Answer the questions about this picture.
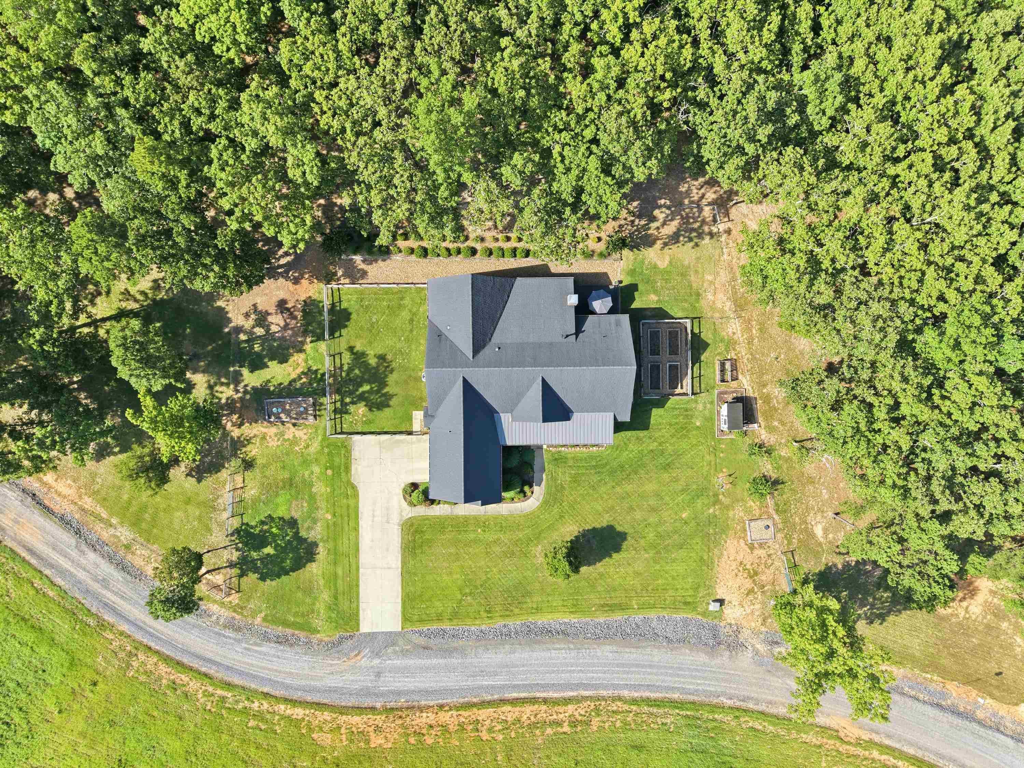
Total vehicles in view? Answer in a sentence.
Not a single vehicle can be seen.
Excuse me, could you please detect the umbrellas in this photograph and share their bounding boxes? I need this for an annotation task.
[589,290,613,313]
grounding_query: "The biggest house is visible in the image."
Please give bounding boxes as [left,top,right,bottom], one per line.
[422,273,636,507]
